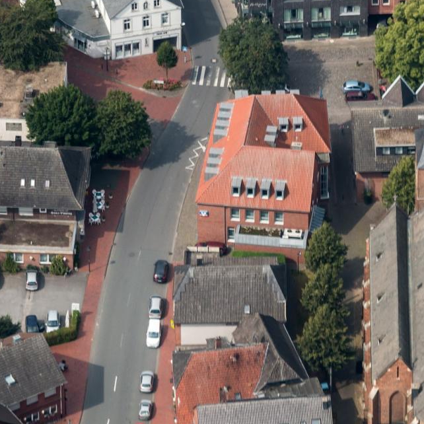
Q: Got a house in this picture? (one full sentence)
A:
Yes, the photo shows a house.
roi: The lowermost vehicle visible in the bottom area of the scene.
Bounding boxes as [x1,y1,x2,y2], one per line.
[138,399,153,421]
